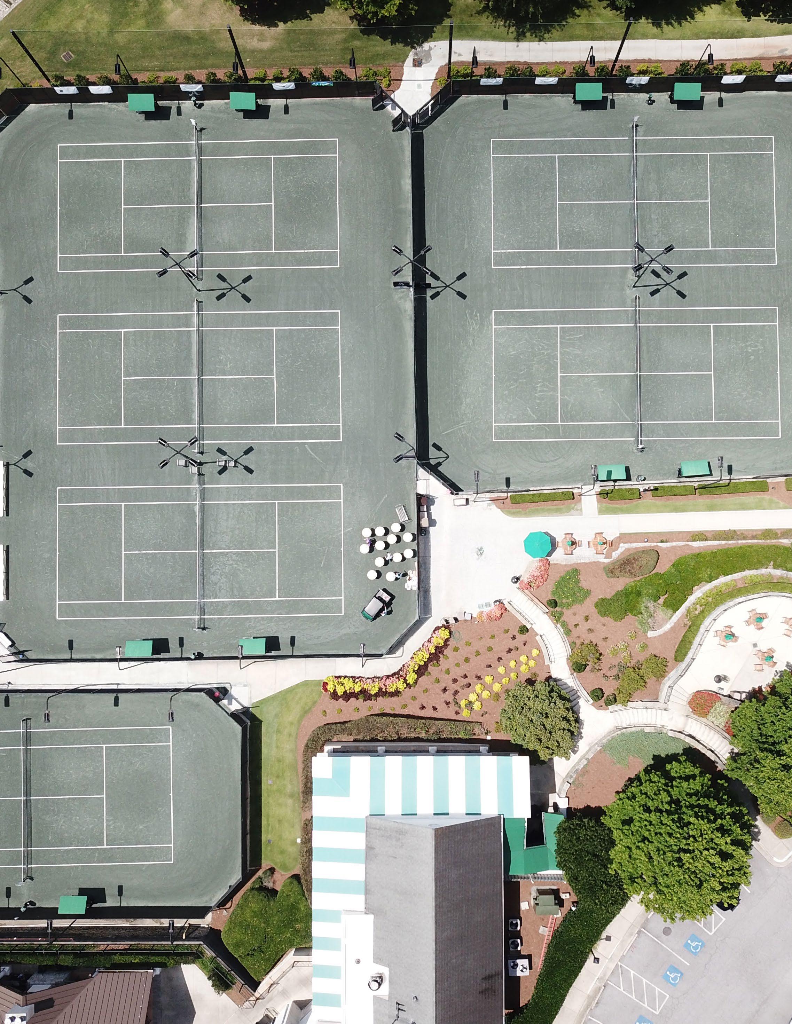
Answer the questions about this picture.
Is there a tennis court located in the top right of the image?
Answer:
Yes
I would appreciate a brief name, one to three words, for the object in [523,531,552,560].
umbrella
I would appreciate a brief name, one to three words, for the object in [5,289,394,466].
tennis court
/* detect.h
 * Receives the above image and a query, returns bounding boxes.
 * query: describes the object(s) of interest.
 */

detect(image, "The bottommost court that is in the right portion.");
[440,287,792,462]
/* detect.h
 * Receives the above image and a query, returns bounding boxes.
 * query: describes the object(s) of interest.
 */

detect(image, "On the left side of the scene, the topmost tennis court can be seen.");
[6,118,391,293]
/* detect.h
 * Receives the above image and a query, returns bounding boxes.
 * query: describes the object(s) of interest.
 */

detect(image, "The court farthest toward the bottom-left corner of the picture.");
[0,705,226,887]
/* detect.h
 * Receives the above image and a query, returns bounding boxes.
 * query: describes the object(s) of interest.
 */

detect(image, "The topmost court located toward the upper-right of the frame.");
[439,116,792,288]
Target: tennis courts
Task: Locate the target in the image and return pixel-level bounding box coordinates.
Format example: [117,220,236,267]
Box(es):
[0,705,226,887]
[440,287,792,462]
[439,116,792,288]
[6,118,391,293]
[4,462,397,641]
[5,289,394,466]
